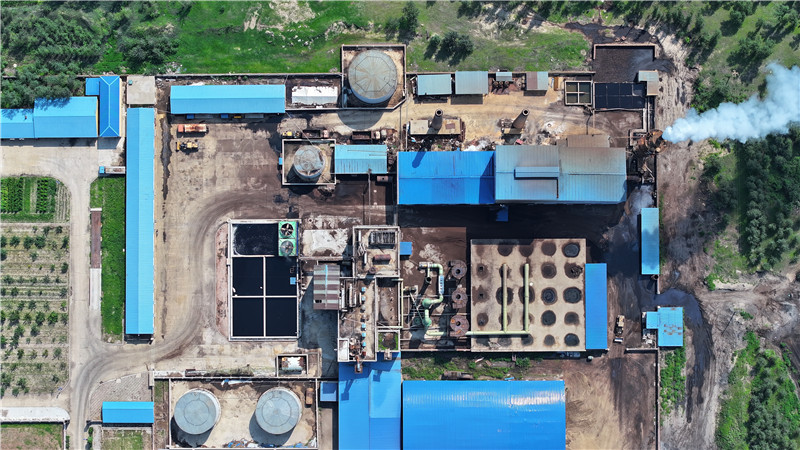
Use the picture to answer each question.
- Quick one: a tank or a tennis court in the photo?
tank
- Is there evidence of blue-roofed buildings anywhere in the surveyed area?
Yes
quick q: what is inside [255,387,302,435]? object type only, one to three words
storage tank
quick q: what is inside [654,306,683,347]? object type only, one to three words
house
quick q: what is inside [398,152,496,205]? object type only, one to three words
building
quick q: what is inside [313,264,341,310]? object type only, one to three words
shed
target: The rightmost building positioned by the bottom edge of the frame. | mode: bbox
[403,379,567,450]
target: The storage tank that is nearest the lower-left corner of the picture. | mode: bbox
[173,386,223,434]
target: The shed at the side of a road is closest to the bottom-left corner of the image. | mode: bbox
[100,400,157,424]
